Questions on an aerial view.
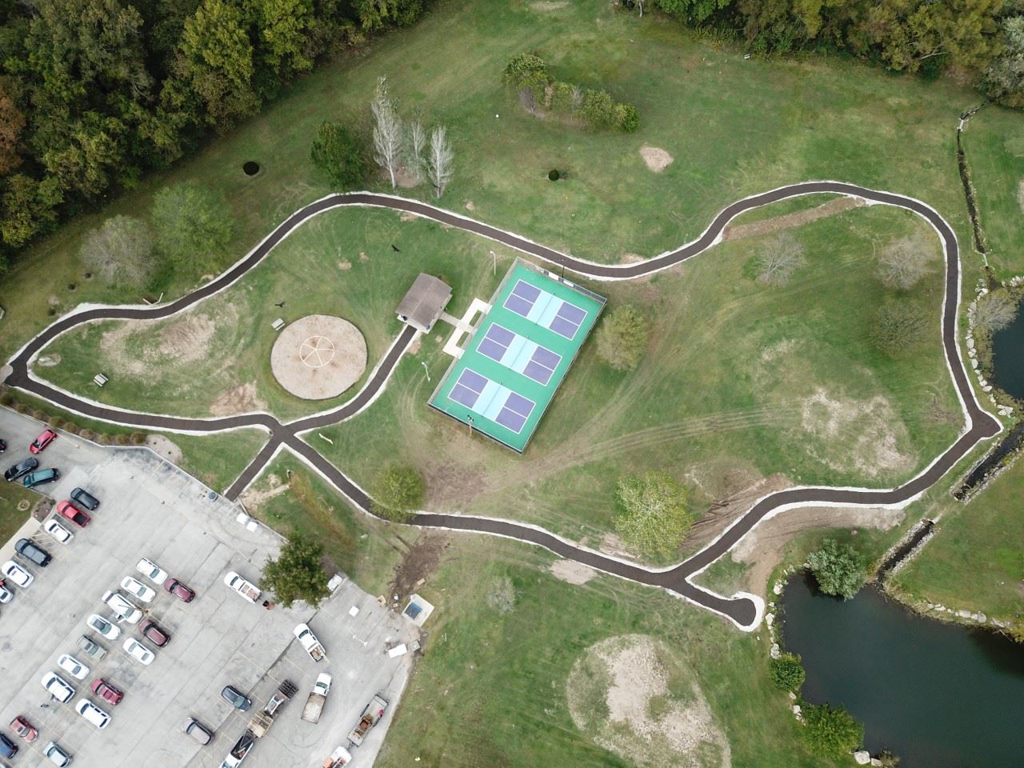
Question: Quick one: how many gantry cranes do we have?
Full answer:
Not a single gantry crane can be seen.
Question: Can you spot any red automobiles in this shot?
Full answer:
Yes, the frame does contain a red automobile.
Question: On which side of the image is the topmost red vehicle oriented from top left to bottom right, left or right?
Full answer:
The topmost red vehicle oriented from top left to bottom right appears in the left half of the scene.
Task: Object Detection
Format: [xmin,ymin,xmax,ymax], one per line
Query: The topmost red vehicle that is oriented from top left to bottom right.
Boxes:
[56,501,90,529]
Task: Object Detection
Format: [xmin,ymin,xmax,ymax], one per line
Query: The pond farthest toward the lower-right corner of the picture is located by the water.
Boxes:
[780,573,1024,768]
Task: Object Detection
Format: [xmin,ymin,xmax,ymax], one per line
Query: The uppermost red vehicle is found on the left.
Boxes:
[30,427,58,457]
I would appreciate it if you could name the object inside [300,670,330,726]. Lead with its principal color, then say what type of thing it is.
white truck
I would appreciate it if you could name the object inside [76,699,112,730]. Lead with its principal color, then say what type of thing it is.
white vehicle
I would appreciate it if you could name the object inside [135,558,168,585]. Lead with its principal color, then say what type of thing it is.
white vehicle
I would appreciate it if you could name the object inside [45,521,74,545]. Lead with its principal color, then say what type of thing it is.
white car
